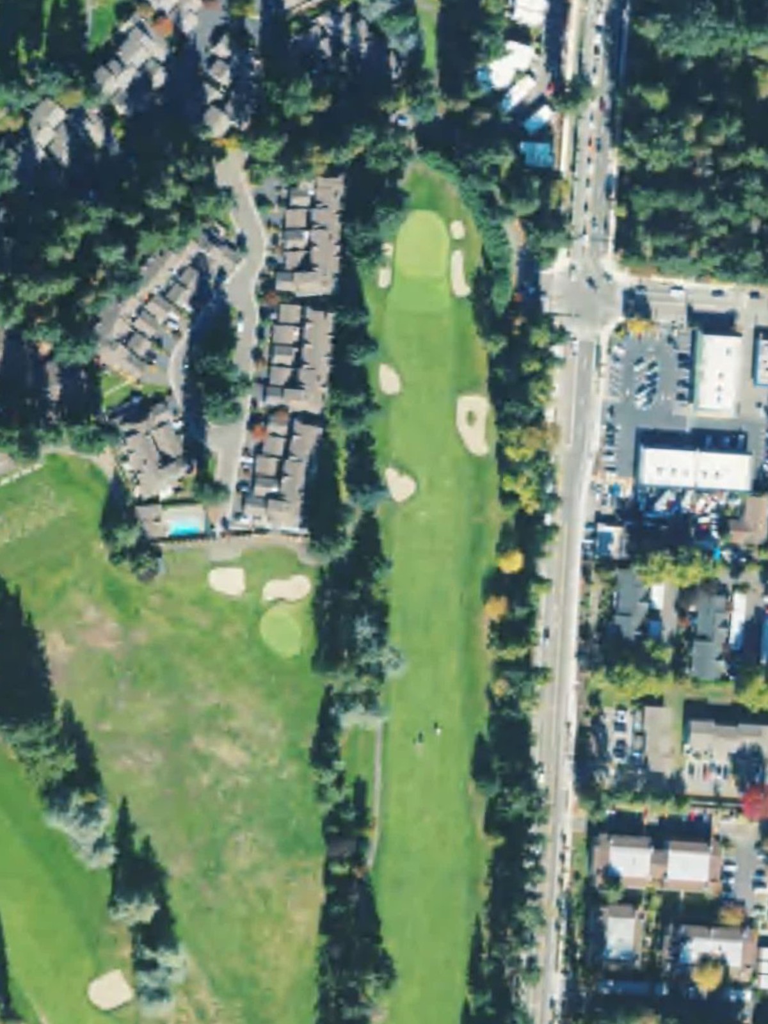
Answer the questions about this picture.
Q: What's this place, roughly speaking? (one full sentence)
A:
The area seen from above is a golf course.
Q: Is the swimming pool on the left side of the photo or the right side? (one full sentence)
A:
The swimming pool appears in the left half of the scene.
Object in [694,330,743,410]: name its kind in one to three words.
building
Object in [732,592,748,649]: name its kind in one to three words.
trailer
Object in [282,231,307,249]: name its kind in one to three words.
building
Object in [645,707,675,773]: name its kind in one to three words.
house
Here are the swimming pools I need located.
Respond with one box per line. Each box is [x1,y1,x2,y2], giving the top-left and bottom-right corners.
[160,507,207,539]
